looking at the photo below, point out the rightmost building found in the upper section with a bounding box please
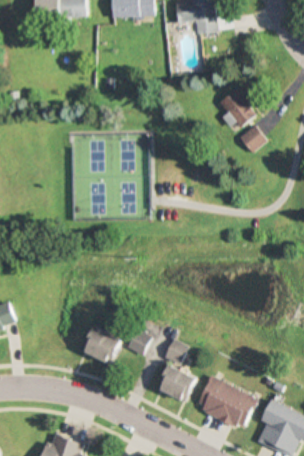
[242,125,268,152]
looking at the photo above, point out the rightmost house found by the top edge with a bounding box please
[175,0,222,36]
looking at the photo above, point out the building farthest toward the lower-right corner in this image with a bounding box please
[258,399,304,456]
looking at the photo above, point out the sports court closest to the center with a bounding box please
[122,182,137,214]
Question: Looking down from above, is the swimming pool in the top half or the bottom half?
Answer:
top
